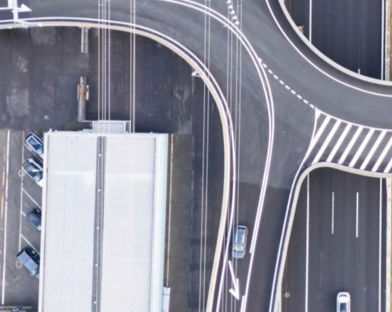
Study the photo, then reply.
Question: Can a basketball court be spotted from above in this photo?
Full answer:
No, no basketball court is visible in the scene.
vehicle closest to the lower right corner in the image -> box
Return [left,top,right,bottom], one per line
[337,293,350,312]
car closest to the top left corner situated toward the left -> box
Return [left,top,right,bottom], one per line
[19,129,42,157]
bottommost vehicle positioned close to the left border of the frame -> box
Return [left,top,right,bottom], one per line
[13,245,38,276]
